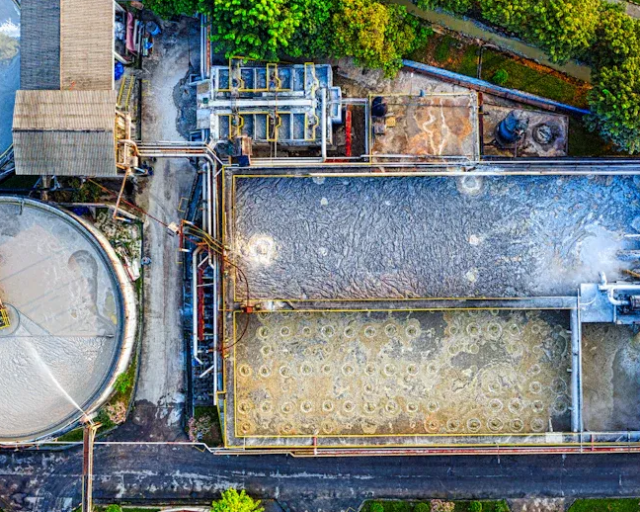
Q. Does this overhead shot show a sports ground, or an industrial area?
industrial area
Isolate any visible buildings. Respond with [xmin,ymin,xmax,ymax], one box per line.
[12,92,137,178]
[21,0,132,96]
